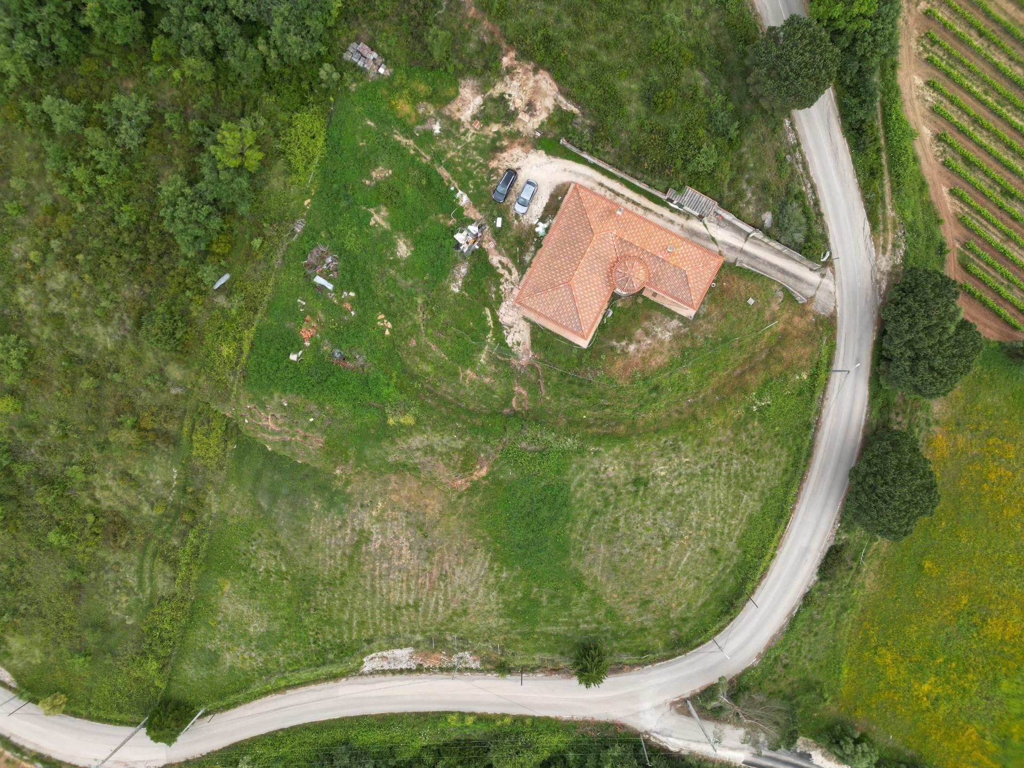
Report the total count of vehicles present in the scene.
two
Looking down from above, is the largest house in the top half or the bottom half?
top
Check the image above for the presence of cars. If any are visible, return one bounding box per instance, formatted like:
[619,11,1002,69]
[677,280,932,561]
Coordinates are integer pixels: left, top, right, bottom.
[515,177,537,214]
[493,165,516,202]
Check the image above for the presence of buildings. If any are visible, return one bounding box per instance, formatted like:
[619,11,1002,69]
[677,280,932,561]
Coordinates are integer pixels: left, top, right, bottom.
[665,185,718,219]
[510,182,724,346]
